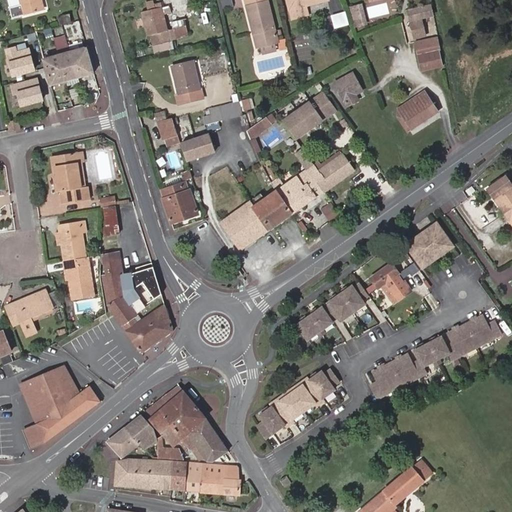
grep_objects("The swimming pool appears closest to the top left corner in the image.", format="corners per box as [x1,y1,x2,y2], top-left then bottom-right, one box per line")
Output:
[95,152,112,181]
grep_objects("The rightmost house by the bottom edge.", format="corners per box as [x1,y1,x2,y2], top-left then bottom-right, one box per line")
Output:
[350,458,433,512]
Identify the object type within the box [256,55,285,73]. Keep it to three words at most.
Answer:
swimming pool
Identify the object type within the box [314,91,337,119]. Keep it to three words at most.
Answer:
house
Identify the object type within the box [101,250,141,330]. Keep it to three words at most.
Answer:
building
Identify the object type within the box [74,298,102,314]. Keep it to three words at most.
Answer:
swimming pool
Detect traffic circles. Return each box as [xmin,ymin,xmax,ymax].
[178,291,254,368]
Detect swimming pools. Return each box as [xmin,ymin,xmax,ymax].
[74,298,102,314]
[256,55,285,73]
[260,130,283,148]
[95,152,112,181]
[166,150,182,170]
